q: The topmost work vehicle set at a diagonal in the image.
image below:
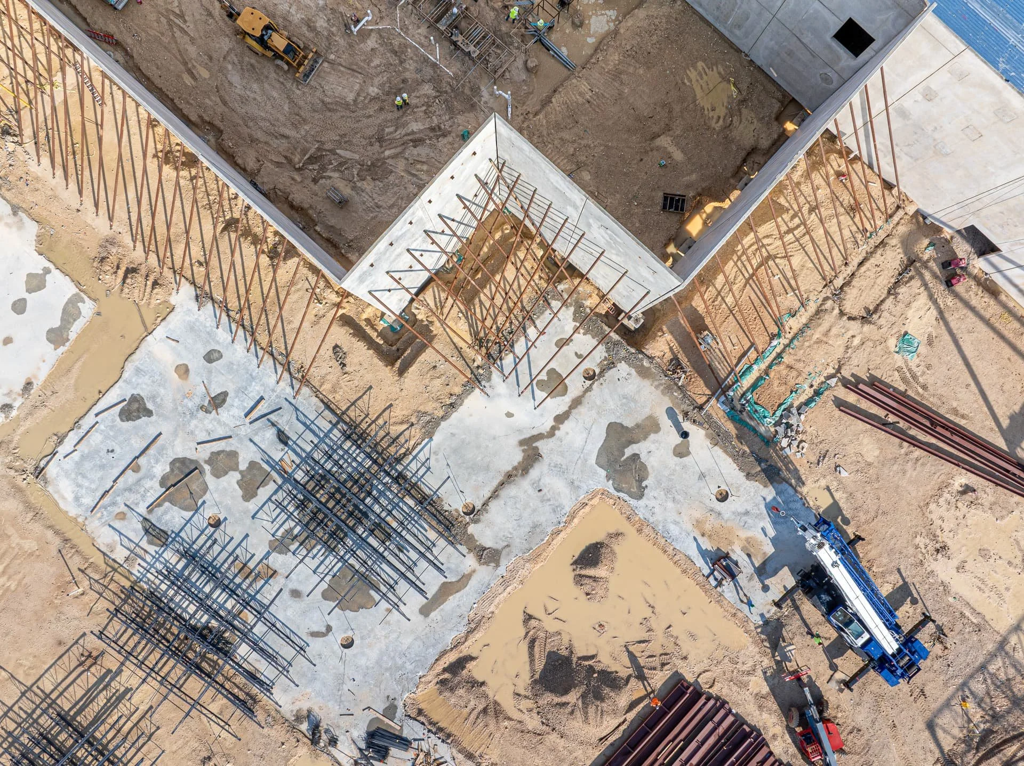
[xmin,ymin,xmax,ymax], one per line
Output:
[222,0,324,85]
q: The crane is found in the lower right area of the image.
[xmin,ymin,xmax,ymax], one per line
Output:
[769,506,936,692]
